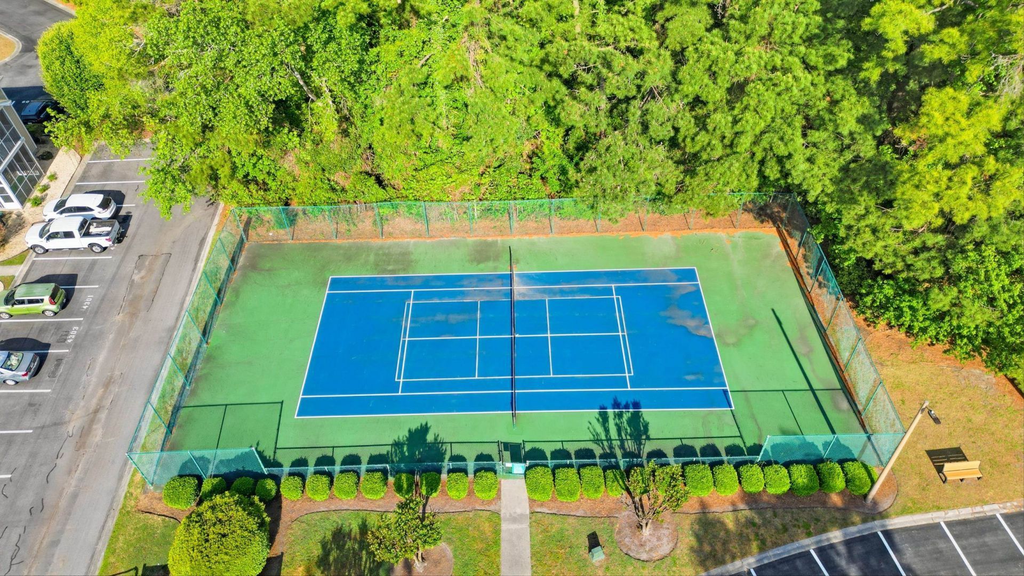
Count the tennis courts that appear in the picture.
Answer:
1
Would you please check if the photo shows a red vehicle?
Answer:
No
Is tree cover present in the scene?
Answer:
Yes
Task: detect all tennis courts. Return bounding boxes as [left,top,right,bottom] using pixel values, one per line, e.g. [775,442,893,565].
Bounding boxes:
[152,232,881,485]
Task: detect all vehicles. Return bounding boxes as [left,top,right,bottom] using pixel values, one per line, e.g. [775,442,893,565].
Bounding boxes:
[0,350,40,386]
[19,97,58,130]
[37,194,112,223]
[19,216,120,254]
[0,280,68,318]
